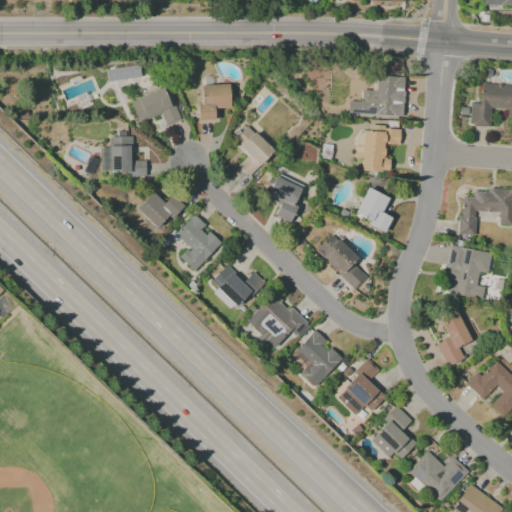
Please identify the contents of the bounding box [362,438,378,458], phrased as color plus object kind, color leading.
blue swimming pool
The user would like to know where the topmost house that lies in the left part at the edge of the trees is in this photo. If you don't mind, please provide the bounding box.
[108,64,142,80]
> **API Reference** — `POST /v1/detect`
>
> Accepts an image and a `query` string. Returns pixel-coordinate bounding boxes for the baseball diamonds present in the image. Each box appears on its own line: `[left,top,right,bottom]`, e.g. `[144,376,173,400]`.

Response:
[0,304,234,512]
